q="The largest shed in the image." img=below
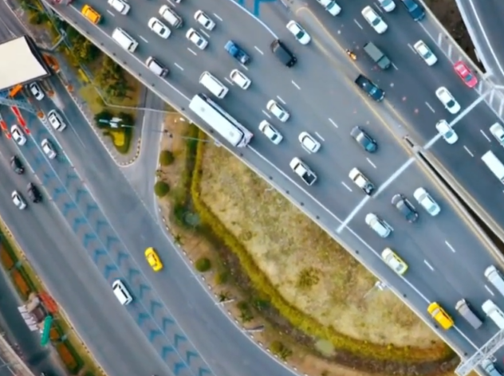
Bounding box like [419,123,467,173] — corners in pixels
[18,297,54,332]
